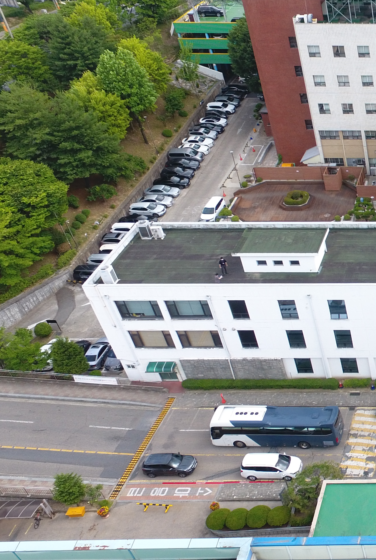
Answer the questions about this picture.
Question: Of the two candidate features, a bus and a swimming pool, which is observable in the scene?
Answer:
bus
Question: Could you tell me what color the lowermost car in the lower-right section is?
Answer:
white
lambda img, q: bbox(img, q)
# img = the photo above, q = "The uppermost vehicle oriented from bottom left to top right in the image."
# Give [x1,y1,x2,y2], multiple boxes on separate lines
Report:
[199,195,234,222]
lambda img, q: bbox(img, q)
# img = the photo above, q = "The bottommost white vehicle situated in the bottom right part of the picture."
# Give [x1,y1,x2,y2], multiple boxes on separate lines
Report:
[243,450,306,478]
